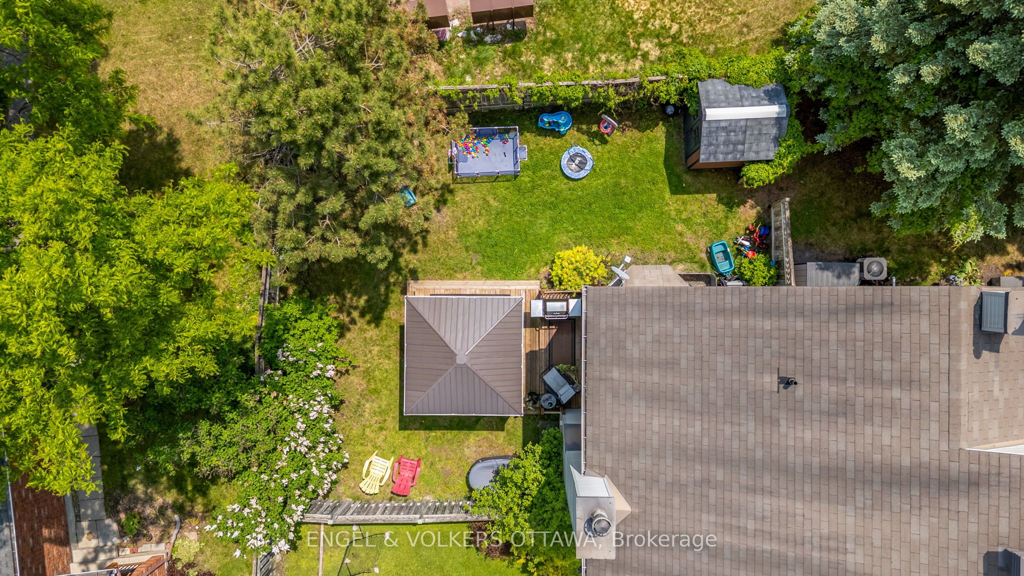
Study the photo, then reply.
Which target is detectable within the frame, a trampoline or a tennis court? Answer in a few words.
trampoline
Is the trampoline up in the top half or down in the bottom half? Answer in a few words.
top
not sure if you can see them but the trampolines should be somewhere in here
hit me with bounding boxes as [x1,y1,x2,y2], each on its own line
[560,143,595,180]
